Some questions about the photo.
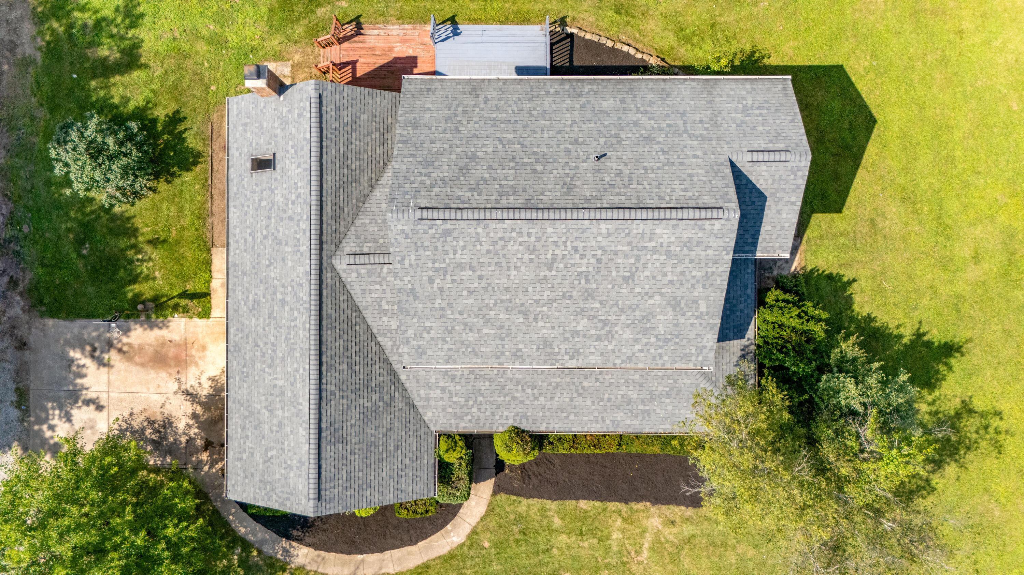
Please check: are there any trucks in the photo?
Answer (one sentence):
No, there isn't any truck down there.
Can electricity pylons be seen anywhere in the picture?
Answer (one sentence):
No, I find no electricity pylon anywhere in the image.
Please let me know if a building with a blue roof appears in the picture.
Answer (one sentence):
No, no building with a blue roof can be seen from above.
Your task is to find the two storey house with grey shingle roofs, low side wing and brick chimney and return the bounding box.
[226,62,811,517]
